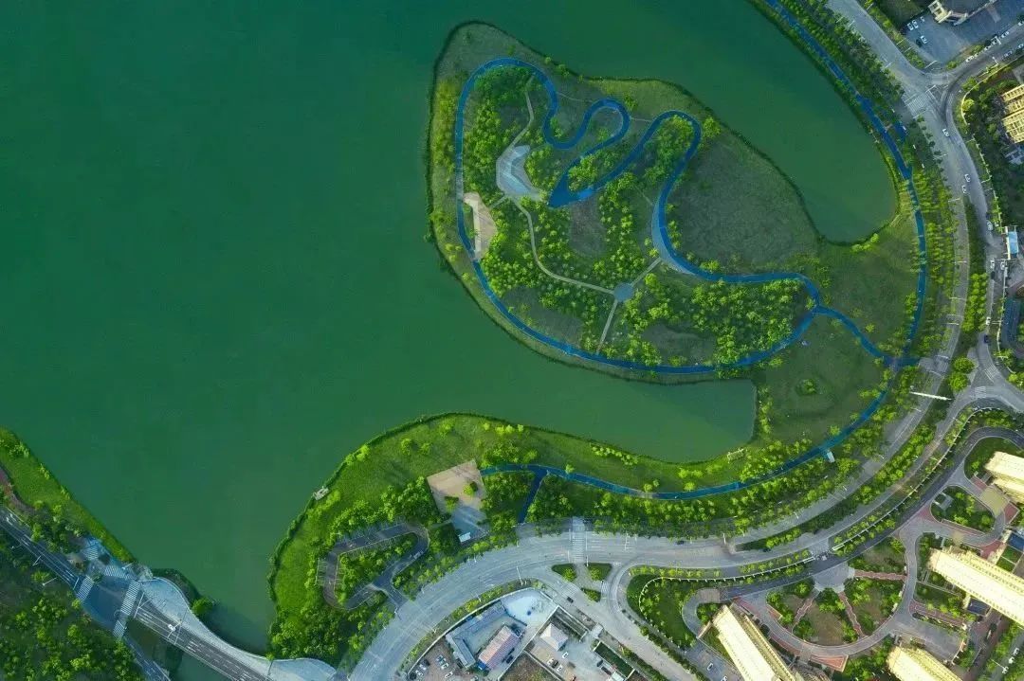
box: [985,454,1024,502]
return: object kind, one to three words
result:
building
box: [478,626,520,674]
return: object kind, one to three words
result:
building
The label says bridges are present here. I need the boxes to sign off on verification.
[133,576,344,681]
